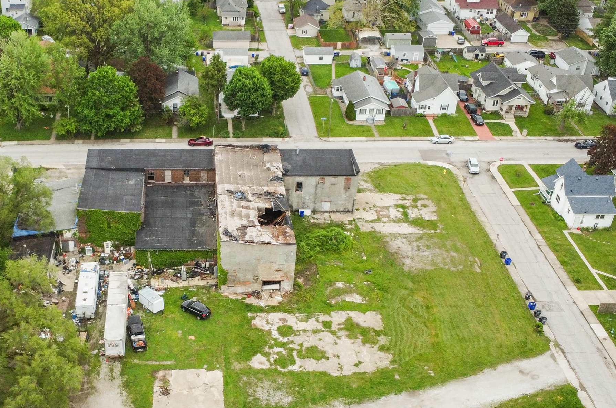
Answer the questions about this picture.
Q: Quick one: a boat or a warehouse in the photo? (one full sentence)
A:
The one in the frame is a warehouse.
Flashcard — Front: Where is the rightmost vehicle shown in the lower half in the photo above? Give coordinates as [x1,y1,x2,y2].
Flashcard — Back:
[180,299,214,322]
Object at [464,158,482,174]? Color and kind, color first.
white car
